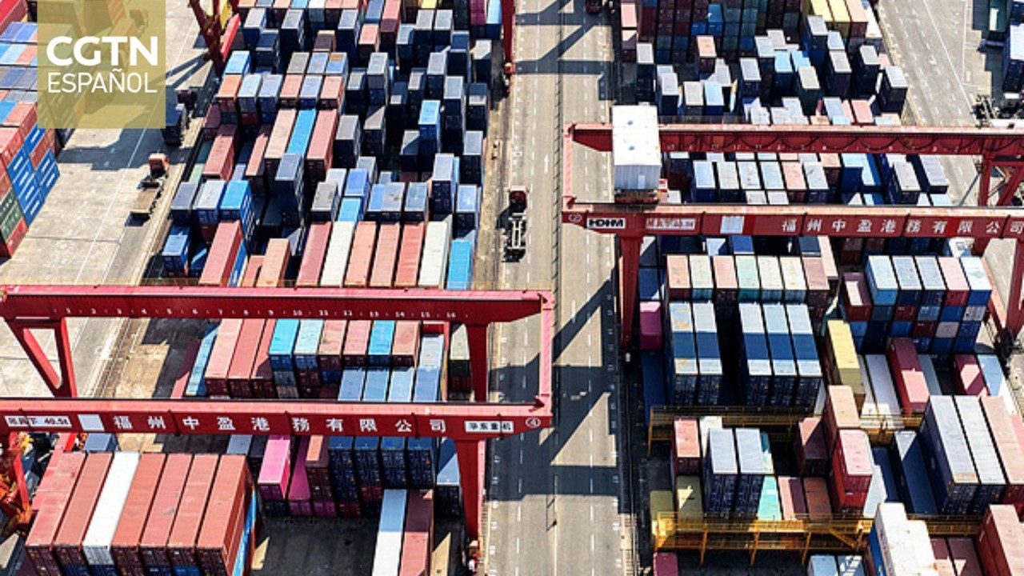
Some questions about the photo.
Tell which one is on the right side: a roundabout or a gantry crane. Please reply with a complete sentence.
The one visible on the right side is a gantry crane.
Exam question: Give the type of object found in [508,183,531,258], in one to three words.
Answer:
truck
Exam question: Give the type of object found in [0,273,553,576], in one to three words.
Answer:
container crane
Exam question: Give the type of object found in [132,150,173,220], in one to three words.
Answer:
truck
